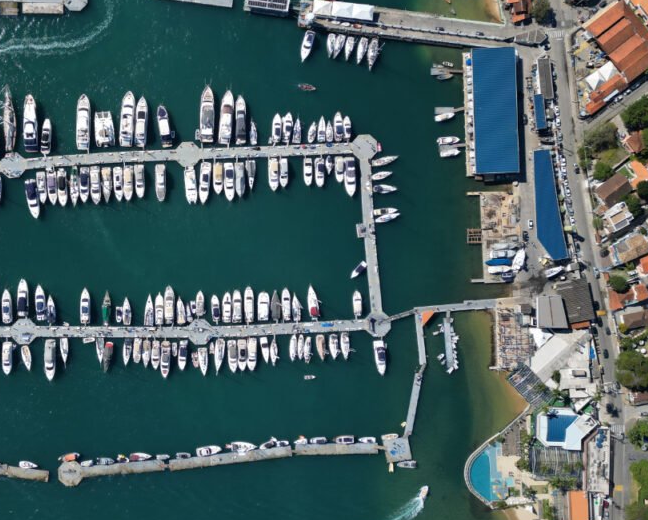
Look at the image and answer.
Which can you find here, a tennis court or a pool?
pool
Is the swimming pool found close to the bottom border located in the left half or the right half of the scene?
right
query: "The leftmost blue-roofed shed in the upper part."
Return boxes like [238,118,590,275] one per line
[464,43,520,173]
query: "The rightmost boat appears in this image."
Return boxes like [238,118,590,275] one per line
[546,264,566,278]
